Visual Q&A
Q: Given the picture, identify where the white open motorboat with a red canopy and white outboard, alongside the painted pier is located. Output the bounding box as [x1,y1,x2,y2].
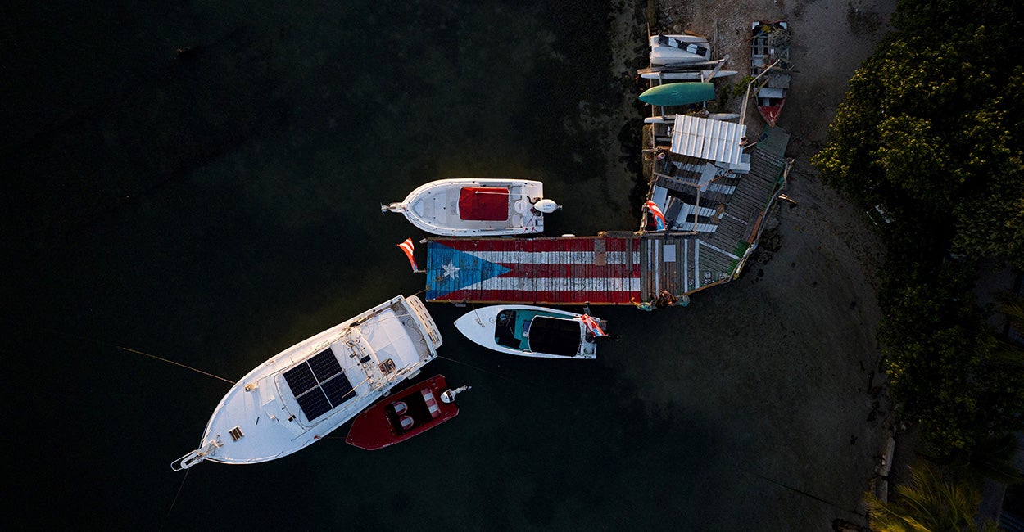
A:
[380,178,561,236]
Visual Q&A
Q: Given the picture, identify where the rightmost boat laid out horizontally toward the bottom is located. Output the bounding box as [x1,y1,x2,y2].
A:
[454,305,619,359]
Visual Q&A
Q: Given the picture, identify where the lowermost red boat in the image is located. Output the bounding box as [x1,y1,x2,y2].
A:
[346,374,471,451]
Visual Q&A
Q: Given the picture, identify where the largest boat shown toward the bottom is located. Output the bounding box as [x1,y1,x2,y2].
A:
[171,295,443,472]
